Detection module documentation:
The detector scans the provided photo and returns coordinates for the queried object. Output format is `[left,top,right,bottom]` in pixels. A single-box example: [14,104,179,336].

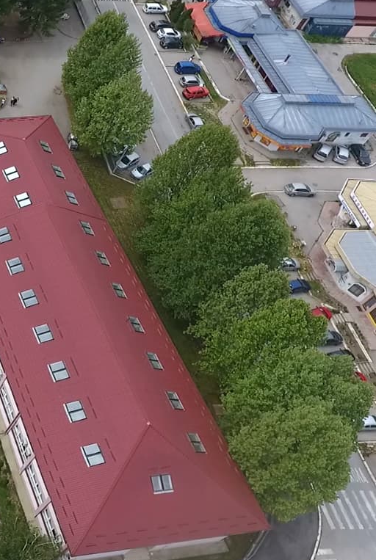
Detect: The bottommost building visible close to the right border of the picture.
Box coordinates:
[318,228,376,317]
